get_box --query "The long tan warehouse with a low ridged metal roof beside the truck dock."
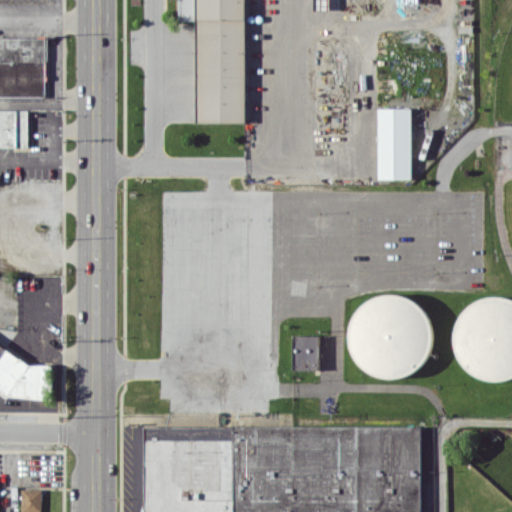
[196,0,246,123]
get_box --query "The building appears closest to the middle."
[294,337,320,372]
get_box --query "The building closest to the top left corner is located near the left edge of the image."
[0,38,48,98]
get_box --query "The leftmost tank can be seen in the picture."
[348,295,434,380]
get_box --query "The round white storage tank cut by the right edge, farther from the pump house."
[454,297,512,382]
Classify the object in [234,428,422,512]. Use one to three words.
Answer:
building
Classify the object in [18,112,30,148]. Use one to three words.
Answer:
building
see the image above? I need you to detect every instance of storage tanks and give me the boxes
[454,297,512,382]
[348,295,434,380]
